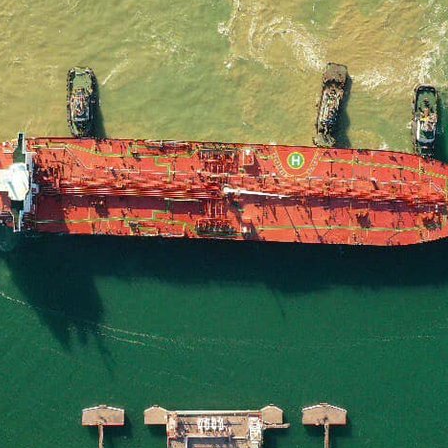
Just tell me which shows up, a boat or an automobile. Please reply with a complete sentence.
Looking from above, you can make out a boat.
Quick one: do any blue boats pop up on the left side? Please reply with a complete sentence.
No, there is no blue boat on the left side.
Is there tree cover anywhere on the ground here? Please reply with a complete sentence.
No, there is no tree cover in the image.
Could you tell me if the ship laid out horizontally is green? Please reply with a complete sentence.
No, the ship laid out horizontally is red.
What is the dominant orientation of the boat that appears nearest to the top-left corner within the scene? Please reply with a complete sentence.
The boat that appears nearest to the top-left corner runs up and down in the image.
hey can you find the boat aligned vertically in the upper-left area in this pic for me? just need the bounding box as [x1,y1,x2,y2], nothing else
[66,66,96,138]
